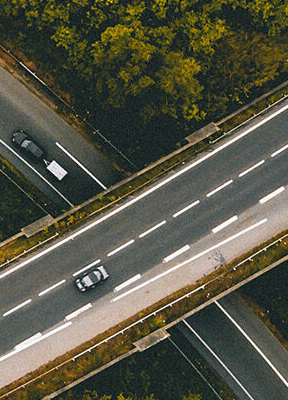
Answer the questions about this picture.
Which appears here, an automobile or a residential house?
automobile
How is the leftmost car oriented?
diagonally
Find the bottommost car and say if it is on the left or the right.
left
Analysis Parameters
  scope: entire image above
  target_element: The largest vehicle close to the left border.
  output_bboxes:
[10,129,44,161]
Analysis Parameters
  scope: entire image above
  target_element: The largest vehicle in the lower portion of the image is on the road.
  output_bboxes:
[73,263,108,291]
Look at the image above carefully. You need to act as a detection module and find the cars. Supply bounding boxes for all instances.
[73,263,108,291]
[10,129,44,161]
